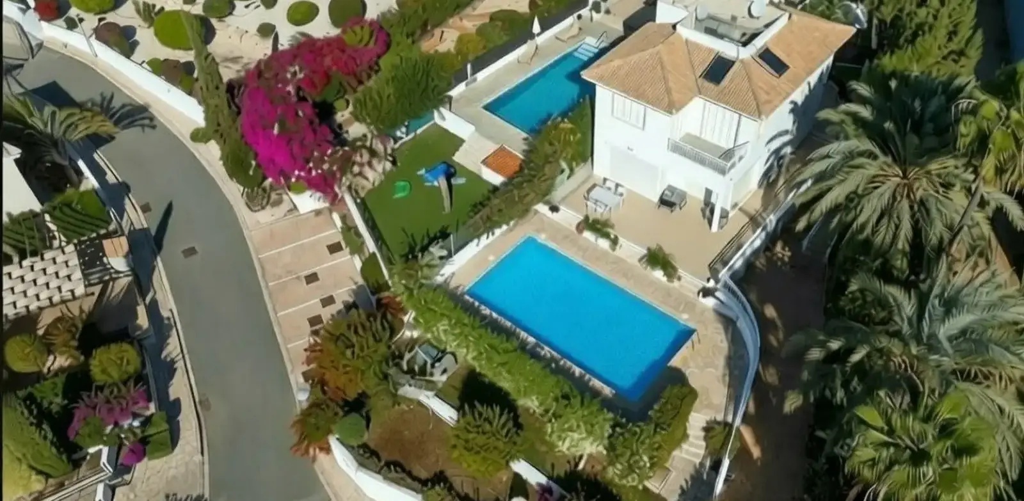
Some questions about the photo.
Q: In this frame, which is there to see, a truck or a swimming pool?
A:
swimming pool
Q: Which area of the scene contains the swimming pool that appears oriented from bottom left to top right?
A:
top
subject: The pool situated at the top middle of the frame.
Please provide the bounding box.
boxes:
[477,34,615,135]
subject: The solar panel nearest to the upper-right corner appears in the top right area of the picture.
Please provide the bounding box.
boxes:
[760,48,791,77]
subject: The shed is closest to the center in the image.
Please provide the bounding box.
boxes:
[482,139,522,174]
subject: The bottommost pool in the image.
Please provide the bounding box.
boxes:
[457,230,704,404]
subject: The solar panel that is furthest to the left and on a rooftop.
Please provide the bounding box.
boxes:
[699,58,732,88]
